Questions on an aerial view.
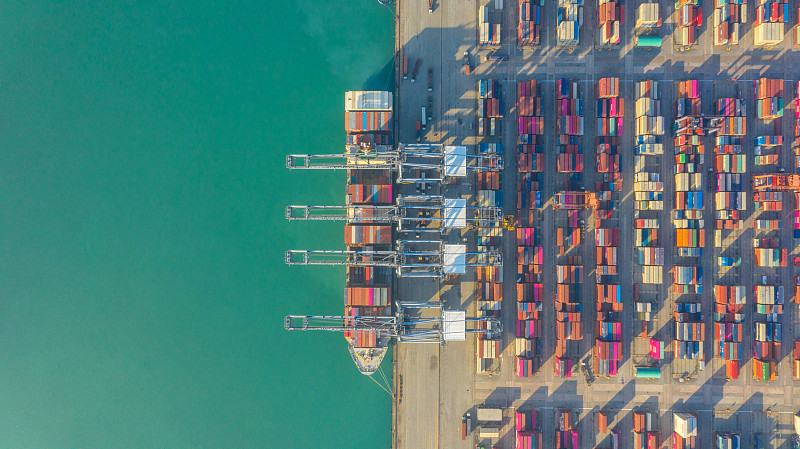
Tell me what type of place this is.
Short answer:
port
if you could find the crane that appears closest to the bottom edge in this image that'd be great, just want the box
[286,293,502,345]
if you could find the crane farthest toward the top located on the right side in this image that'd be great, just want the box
[674,113,727,137]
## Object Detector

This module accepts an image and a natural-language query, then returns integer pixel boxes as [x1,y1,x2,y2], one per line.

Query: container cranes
[286,234,503,280]
[286,293,502,345]
[287,192,503,235]
[553,192,604,212]
[674,113,727,137]
[288,141,503,190]
[755,173,800,194]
